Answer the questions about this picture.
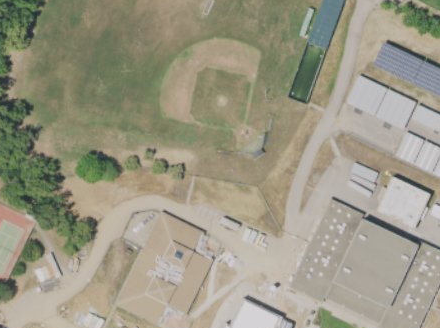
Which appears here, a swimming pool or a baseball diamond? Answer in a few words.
baseball diamond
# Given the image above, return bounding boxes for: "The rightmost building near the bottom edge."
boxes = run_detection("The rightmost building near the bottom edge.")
[290,198,440,328]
